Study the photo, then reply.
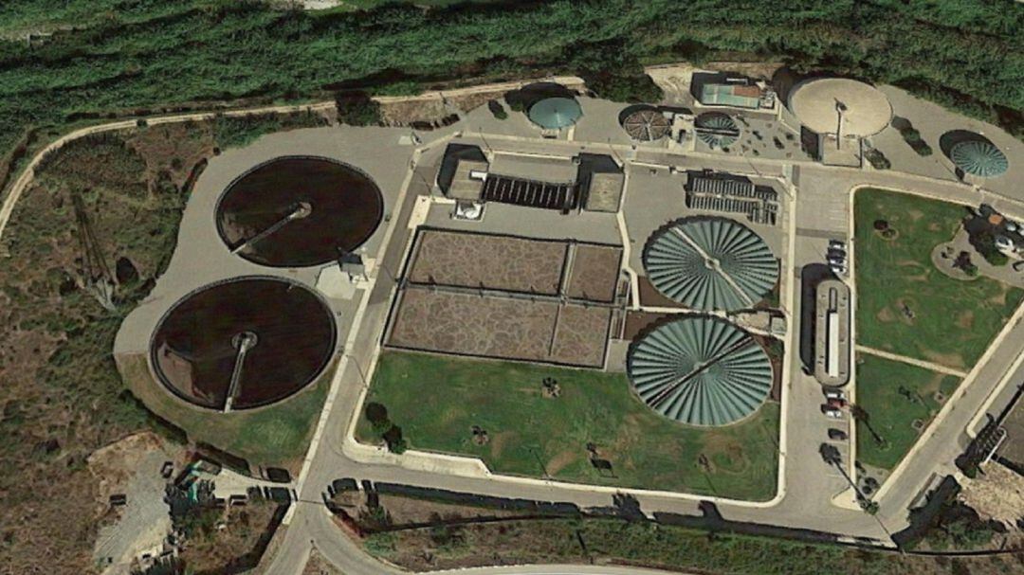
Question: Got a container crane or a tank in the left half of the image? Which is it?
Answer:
tank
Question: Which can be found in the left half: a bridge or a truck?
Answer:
bridge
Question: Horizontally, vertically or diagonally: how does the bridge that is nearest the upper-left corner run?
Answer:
diagonally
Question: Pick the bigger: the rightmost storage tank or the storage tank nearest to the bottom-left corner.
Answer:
the storage tank nearest to the bottom-left corner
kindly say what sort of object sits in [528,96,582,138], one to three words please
storage tank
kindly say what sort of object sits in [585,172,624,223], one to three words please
building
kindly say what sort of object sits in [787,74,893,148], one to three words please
storage tank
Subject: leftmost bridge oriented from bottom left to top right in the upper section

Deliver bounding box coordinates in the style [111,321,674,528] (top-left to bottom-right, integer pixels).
[231,198,307,253]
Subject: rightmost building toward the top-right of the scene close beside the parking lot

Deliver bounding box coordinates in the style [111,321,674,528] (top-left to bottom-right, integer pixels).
[820,135,862,177]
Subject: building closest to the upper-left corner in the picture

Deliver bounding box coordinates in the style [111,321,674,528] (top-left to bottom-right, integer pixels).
[342,262,365,286]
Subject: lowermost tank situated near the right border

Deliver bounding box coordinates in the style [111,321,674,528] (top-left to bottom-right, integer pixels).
[949,141,1009,186]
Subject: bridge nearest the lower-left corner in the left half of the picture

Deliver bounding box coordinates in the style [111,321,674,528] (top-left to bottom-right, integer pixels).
[224,330,248,414]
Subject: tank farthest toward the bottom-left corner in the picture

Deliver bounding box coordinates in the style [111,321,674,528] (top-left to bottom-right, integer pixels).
[149,273,338,415]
